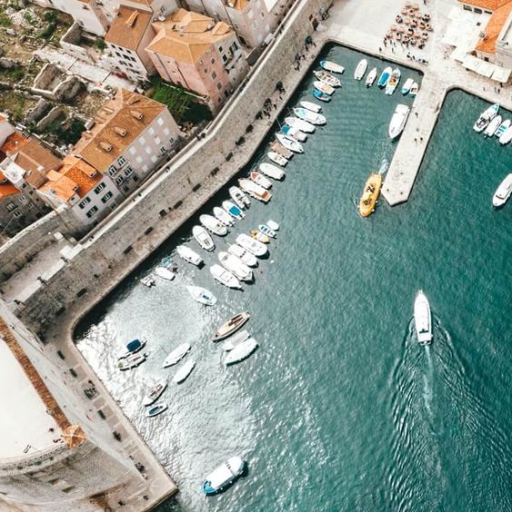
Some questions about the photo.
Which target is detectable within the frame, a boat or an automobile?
boat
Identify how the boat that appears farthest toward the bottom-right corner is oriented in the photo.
from top to bottom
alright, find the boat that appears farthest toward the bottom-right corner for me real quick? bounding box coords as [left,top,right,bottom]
[414,288,434,350]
